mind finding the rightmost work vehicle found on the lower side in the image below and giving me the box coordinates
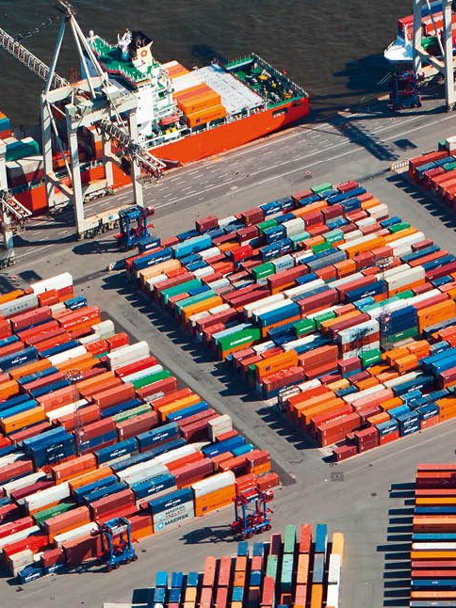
[237,478,286,537]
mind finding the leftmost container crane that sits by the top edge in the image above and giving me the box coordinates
[0,0,173,240]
